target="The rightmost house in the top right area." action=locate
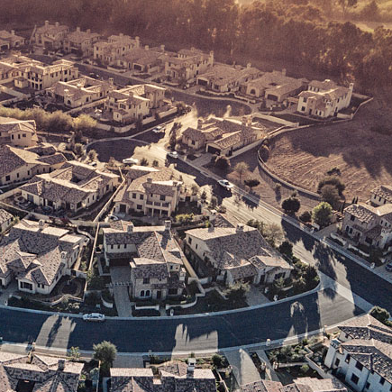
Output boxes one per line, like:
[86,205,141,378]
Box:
[291,79,359,117]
